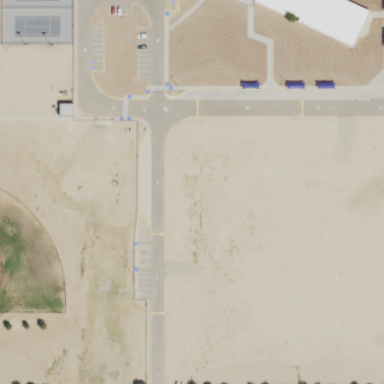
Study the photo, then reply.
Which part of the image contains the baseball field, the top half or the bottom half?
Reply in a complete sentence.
The baseball field is in the bottom half of the image.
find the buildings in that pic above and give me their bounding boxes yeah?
[256,0,370,46]
[59,102,74,116]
